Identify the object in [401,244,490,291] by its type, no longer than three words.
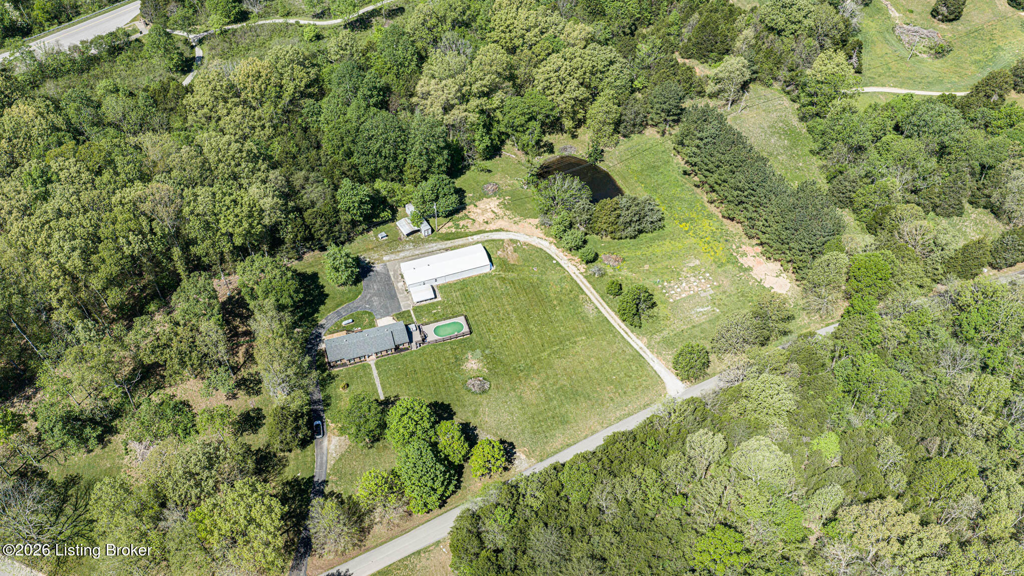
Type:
barn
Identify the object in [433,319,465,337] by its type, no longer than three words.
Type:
swimming pool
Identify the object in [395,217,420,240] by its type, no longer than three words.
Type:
shed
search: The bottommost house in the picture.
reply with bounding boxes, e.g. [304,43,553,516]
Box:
[325,322,409,367]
